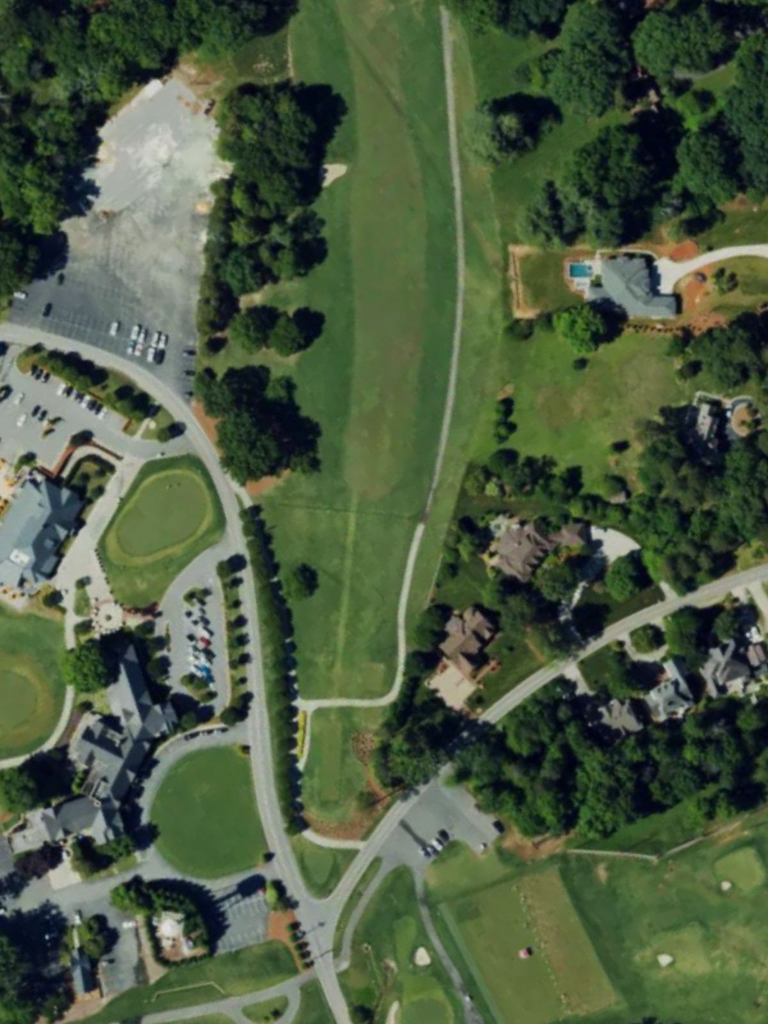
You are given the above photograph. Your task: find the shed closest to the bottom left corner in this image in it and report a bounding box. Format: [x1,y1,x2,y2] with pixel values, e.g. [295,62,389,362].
[66,951,91,1000]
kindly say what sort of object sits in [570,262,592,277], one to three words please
swimming pool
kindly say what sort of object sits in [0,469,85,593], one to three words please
building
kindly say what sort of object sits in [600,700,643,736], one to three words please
house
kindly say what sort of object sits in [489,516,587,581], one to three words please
house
